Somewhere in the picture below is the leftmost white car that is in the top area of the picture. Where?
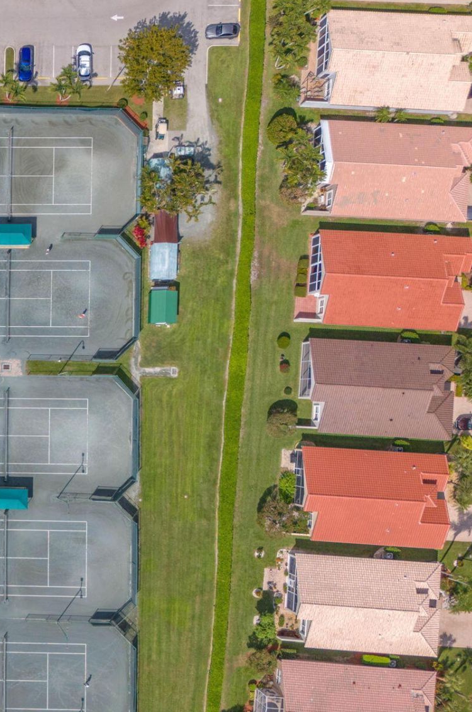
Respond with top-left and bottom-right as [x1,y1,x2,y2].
[77,46,92,78]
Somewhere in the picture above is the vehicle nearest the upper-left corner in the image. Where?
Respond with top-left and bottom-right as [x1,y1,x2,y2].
[18,46,33,80]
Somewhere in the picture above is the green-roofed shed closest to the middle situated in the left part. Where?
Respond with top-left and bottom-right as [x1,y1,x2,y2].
[144,289,178,326]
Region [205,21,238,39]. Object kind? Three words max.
car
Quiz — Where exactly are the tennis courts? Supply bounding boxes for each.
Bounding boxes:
[0,235,136,360]
[0,374,135,501]
[0,497,133,621]
[0,113,137,236]
[0,619,131,712]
